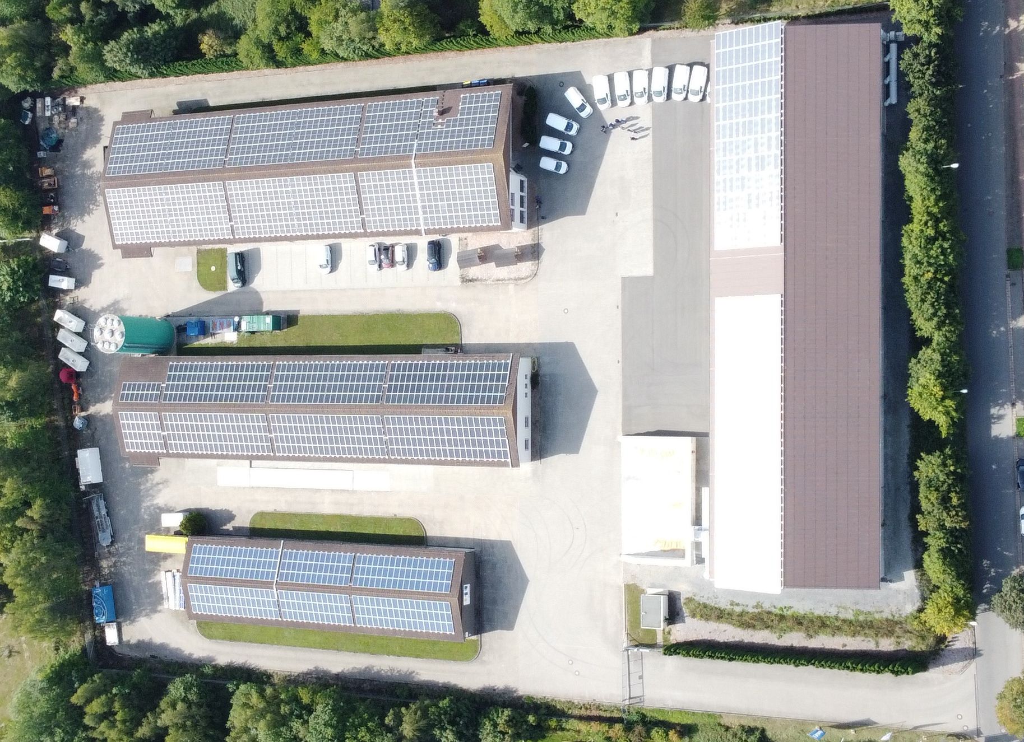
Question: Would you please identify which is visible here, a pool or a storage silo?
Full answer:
Of the two, only a storage silo appears.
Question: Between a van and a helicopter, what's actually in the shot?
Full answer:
It is a van that can be seen here.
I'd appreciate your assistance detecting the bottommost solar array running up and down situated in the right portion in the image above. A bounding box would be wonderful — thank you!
[715,294,780,594]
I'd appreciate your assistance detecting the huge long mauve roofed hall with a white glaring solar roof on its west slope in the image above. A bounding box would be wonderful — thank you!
[709,20,892,595]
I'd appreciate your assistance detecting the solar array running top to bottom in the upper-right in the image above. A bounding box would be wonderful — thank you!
[714,21,780,250]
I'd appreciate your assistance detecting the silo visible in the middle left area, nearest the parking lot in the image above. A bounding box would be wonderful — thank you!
[84,313,178,355]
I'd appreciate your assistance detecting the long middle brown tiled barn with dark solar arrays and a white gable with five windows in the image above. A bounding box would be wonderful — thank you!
[111,353,531,468]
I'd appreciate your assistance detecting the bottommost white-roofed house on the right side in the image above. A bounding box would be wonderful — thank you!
[641,583,672,630]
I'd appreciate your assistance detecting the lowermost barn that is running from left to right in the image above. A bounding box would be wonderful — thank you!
[181,535,475,643]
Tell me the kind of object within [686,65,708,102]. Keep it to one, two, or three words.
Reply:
vehicle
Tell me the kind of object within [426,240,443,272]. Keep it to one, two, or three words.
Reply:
car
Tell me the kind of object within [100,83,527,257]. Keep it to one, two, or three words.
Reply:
barn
